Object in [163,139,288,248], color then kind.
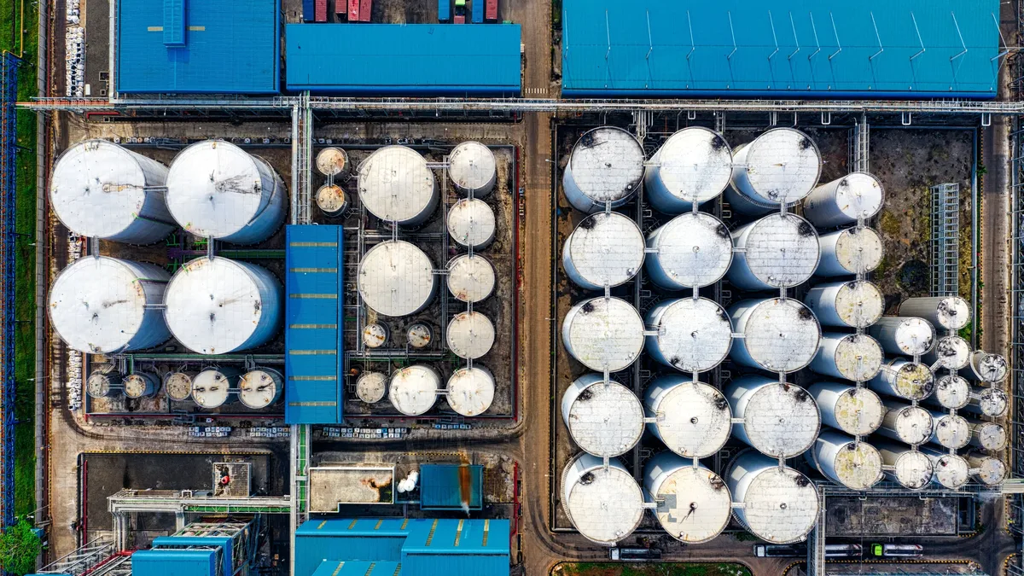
white storage tank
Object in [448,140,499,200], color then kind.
white storage tank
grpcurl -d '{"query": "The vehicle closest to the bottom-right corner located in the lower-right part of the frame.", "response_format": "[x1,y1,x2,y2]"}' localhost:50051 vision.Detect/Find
[868,542,924,557]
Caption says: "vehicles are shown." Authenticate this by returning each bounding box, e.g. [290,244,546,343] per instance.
[752,543,807,558]
[455,0,467,23]
[868,542,924,557]
[806,543,864,558]
[608,546,661,561]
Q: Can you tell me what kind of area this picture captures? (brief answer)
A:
industrial area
